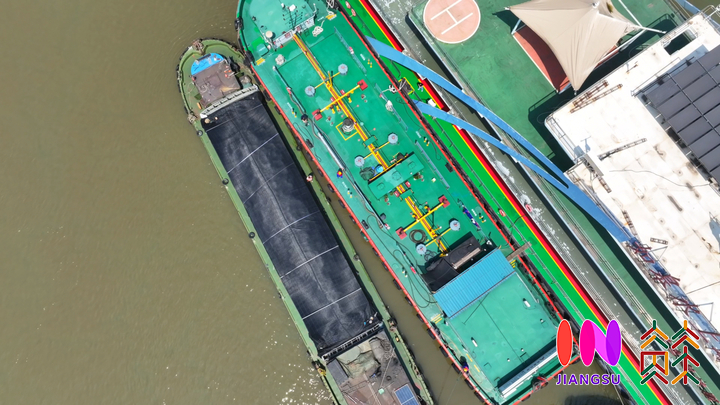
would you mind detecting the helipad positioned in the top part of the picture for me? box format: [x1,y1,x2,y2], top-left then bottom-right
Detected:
[423,0,480,43]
